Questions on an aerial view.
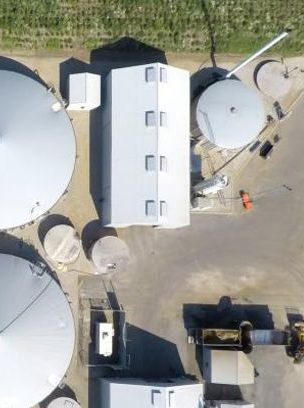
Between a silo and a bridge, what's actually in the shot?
silo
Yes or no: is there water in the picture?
No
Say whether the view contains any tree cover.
No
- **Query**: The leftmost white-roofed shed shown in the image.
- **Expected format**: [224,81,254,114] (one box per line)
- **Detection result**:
[66,71,101,107]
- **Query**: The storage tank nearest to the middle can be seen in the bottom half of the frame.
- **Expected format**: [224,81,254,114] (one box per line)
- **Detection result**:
[87,236,129,277]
